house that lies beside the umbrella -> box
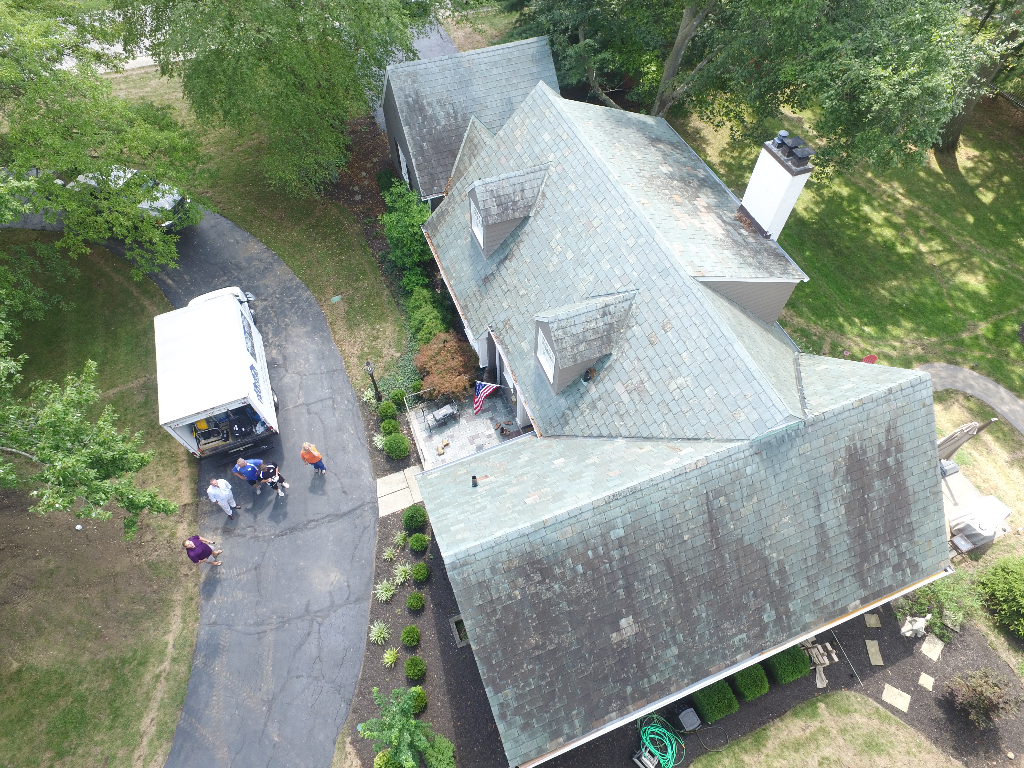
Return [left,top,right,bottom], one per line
[413,79,957,768]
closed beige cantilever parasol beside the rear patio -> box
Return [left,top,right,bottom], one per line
[937,415,1000,462]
